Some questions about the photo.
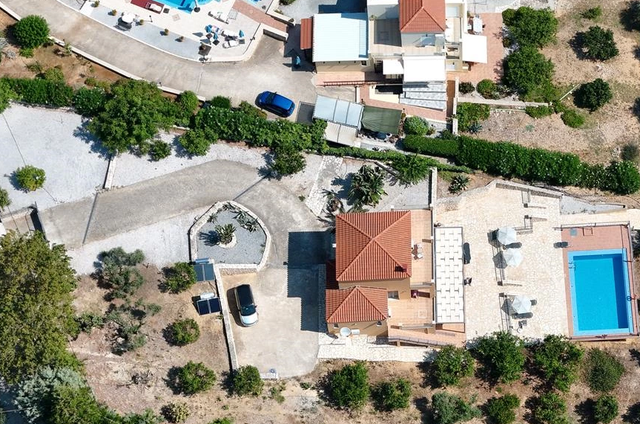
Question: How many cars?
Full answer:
There are 2 cars in the image.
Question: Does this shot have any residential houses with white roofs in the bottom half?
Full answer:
No, no residential house with a white roof appears in the bottom half.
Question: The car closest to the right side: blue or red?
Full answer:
The color of the car closest to the right side is blue.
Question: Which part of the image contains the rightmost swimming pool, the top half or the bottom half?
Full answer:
Seen from above, the rightmost swimming pool lies in the bottom half of the view.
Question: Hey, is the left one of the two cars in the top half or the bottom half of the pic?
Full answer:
The left one of the two cars is in the bottom half of the image.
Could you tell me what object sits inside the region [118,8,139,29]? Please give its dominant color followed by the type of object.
white umbrella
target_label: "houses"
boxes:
[325,209,466,351]
[300,0,487,110]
